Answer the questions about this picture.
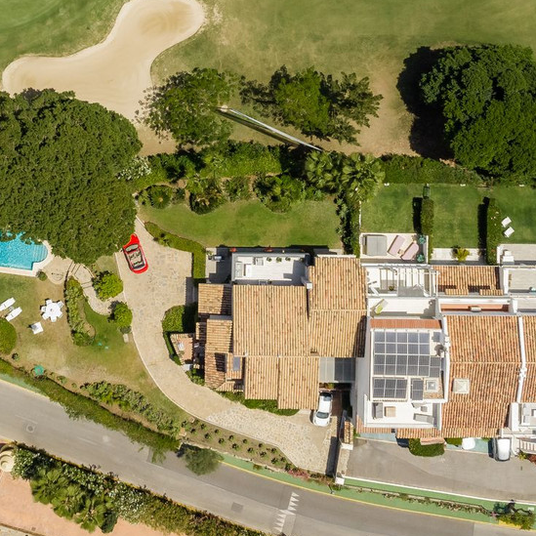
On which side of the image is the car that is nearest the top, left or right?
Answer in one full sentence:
The car that is nearest the top sits on the left side.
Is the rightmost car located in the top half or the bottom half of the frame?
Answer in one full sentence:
It is in the bottom half that the rightmost car appears.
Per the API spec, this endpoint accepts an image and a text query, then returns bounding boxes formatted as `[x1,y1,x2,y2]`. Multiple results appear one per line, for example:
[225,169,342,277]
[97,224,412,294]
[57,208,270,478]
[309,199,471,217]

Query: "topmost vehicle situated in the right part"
[313,390,336,431]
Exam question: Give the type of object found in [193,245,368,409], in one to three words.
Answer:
house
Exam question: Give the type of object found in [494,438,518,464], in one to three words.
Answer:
car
